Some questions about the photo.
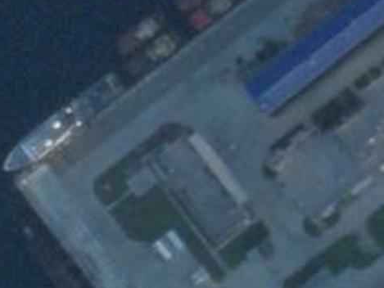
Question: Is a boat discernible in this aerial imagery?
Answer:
Yes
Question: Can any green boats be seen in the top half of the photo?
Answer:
No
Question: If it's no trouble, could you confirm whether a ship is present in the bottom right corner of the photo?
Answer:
No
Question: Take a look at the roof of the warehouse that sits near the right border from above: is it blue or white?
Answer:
blue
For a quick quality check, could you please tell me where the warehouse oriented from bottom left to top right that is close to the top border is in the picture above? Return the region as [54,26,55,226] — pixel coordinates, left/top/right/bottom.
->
[245,0,384,112]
